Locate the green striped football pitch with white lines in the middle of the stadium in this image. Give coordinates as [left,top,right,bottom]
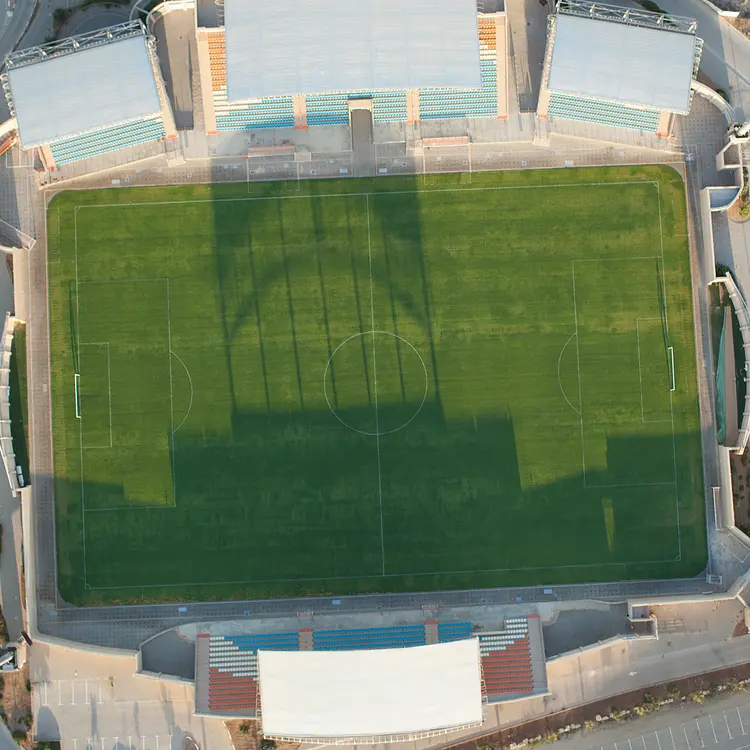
[44,161,713,610]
